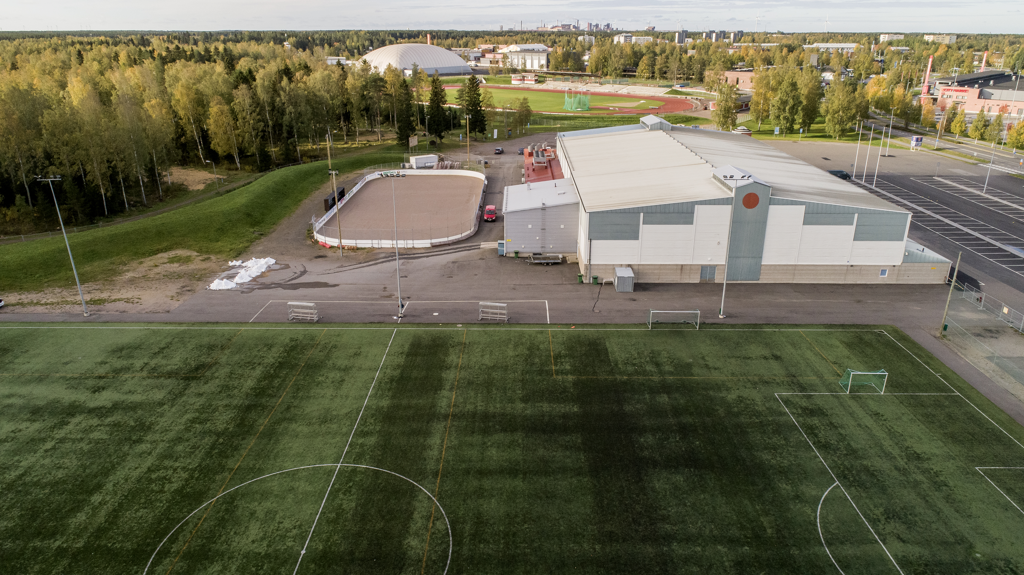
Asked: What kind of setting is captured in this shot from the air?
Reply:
sports ground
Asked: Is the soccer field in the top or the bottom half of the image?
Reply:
bottom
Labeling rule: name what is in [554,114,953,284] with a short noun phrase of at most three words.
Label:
building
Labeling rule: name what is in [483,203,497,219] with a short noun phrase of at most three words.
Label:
vehicle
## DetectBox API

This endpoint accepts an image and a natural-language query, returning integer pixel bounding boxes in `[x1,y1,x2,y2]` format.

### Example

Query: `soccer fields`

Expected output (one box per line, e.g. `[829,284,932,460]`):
[0,324,1024,575]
